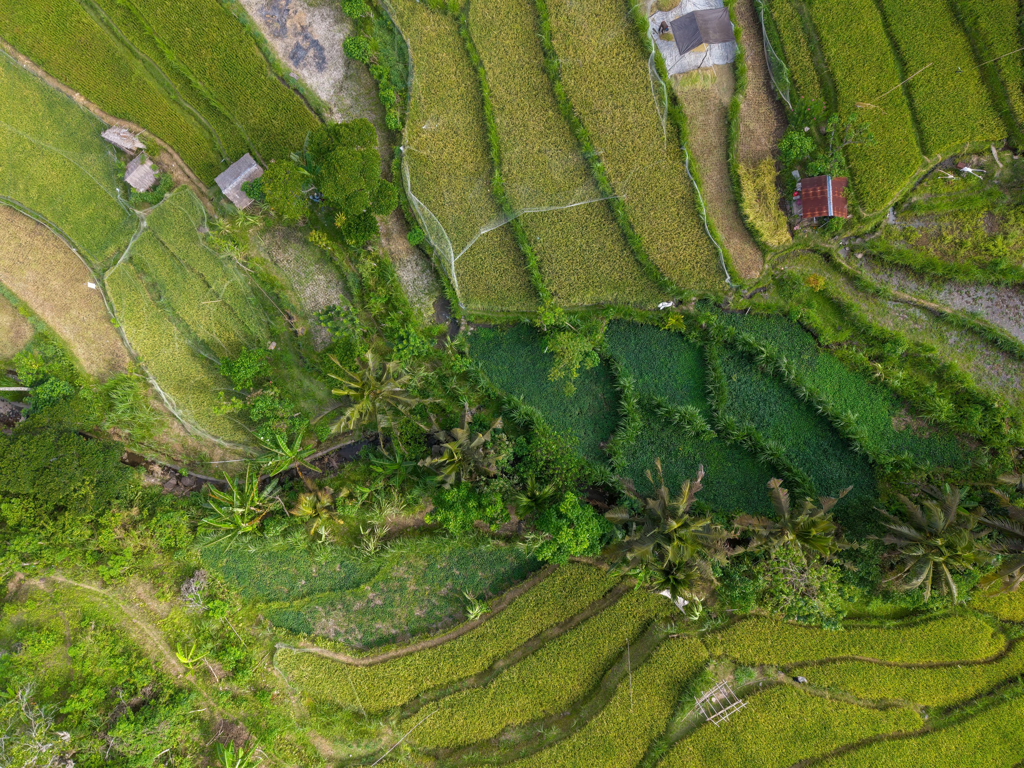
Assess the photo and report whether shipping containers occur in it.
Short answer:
No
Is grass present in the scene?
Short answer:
Yes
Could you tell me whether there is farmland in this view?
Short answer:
Yes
